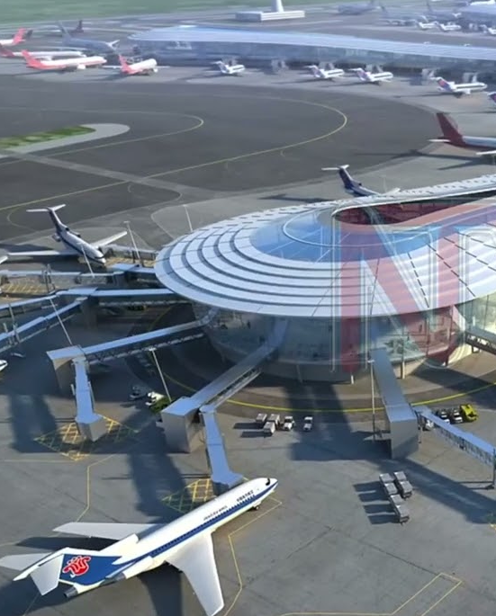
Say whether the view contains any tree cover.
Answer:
No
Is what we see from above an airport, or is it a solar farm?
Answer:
airport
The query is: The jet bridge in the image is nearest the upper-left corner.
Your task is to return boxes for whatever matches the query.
[227,53,241,67]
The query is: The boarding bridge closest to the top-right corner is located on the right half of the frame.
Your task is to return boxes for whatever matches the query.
[462,66,479,84]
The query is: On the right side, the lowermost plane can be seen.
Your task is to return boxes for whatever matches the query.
[324,164,397,197]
